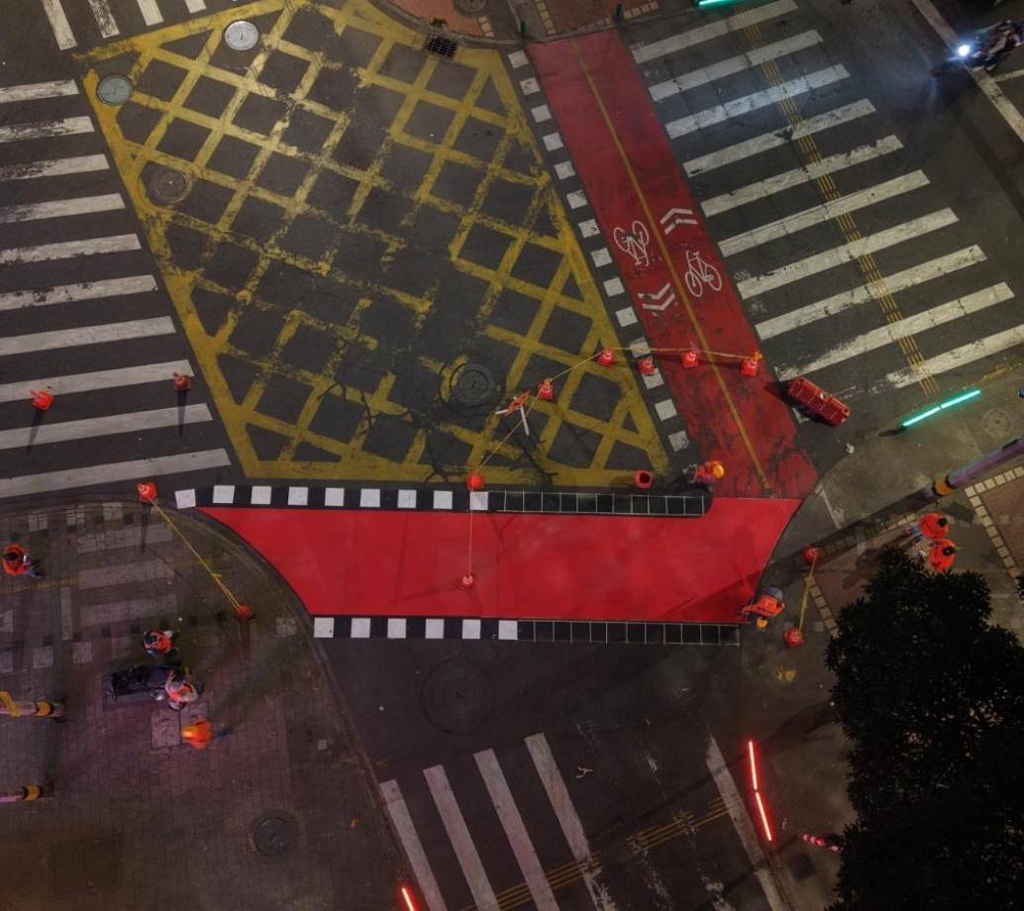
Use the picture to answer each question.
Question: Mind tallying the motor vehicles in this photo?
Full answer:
There are 2 motor vehicles in the image.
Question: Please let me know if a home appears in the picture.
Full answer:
No, no home is visible in the view.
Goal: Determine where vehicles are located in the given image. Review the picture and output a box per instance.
[945,22,1018,77]
[108,651,195,718]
